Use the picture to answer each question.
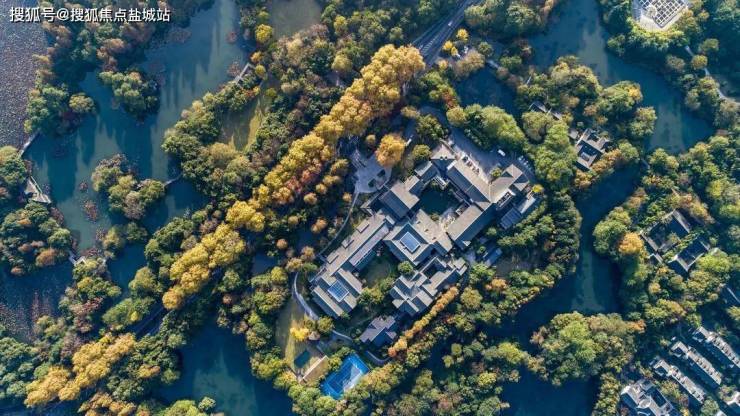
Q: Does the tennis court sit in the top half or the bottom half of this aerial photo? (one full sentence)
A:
The tennis court sits in the bottom half of the picture.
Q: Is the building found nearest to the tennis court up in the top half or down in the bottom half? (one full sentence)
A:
The bottom half of the photo is where the building found nearest to the tennis court is.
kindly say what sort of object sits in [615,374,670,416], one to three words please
house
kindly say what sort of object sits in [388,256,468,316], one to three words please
house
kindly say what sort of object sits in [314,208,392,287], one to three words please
building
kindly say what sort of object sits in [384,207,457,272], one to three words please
building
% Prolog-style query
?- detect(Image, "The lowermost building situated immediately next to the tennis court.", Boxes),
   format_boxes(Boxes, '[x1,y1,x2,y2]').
[301,354,331,384]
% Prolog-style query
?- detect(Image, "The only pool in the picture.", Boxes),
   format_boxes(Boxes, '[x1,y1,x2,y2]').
[293,350,314,368]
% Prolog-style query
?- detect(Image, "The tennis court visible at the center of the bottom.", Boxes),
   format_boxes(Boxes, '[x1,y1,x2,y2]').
[322,353,369,402]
